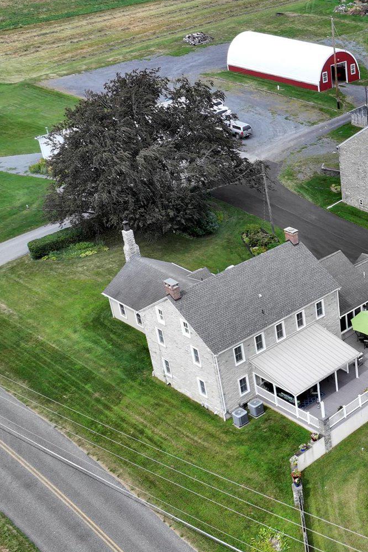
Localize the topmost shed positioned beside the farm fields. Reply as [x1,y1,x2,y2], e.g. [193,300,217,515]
[233,31,358,91]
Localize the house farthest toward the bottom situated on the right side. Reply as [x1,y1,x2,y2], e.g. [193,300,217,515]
[104,225,368,420]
